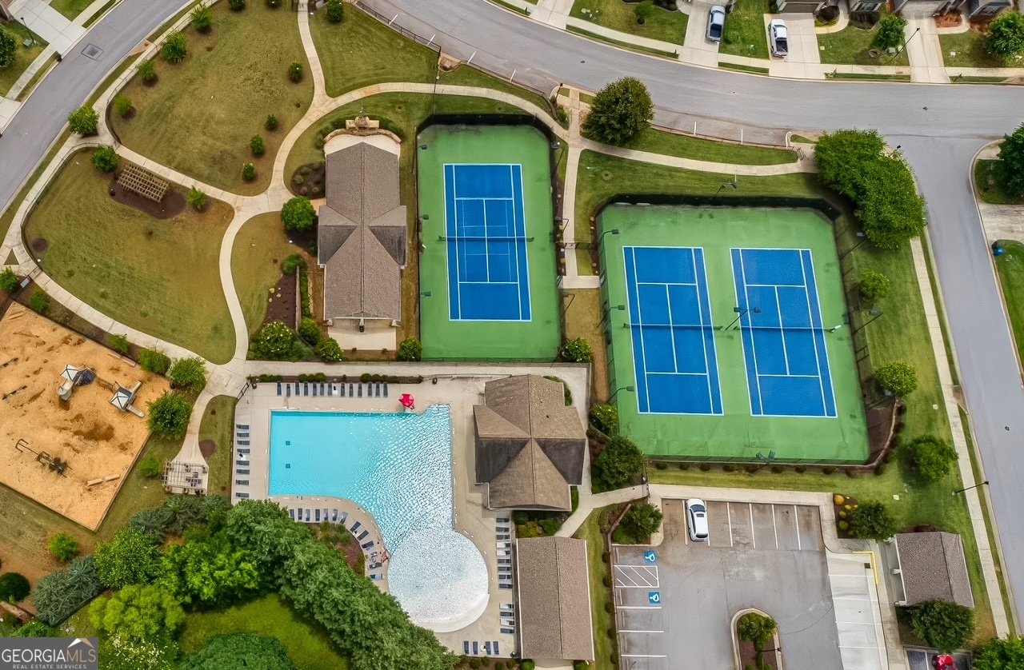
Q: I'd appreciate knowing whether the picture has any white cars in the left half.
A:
No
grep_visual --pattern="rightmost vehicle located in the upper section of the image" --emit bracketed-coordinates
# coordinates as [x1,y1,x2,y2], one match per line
[769,22,788,57]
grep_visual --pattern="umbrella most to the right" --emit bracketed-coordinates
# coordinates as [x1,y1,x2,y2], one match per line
[400,394,414,407]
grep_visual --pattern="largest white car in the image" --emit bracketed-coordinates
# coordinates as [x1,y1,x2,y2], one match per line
[684,500,710,543]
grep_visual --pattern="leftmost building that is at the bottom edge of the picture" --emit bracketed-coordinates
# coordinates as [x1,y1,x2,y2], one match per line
[515,536,596,662]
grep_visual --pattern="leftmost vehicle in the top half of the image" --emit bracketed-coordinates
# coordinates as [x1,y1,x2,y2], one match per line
[707,7,726,42]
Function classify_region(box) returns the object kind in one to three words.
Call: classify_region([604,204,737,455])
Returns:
tennis court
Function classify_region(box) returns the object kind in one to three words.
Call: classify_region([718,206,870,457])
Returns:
tennis court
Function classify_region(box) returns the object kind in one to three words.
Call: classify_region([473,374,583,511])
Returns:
building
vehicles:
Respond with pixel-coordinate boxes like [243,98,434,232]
[930,652,954,670]
[684,500,710,543]
[769,22,788,57]
[707,7,726,42]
